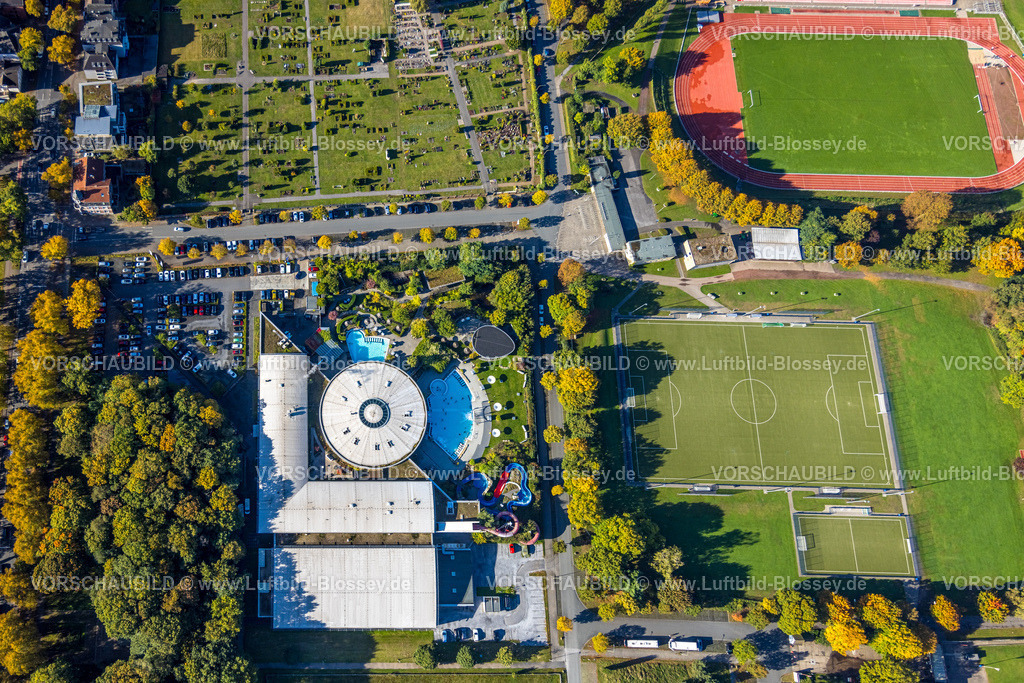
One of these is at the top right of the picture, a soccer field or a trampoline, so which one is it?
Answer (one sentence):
Looking at the top right of the picture, you will find a soccer field.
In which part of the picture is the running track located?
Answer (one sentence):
The running track appears toward the top right of the photo.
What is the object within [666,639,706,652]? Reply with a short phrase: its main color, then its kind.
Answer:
white vehicle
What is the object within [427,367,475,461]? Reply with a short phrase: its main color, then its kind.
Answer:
blue swimming pool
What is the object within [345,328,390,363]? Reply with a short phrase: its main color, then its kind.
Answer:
blue swimming pool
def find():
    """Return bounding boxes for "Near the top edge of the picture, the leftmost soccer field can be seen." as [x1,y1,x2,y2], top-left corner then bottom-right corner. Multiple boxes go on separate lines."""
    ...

[732,33,998,177]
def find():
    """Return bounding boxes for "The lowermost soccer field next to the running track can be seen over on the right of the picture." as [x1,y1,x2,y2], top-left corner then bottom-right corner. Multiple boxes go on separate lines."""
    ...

[620,319,895,488]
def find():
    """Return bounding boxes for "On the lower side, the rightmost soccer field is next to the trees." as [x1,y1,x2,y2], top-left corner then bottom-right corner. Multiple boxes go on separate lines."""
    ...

[795,514,914,577]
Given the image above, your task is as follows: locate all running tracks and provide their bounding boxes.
[671,8,1024,193]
